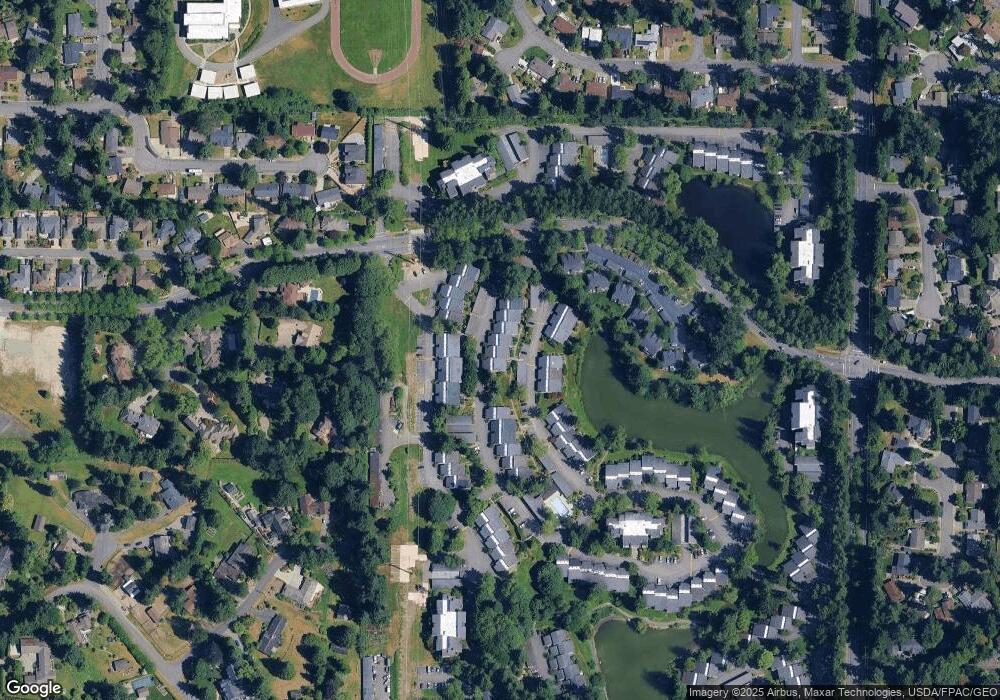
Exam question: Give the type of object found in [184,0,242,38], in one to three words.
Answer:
building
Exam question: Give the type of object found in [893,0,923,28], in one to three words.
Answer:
house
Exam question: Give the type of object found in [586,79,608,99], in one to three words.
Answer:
house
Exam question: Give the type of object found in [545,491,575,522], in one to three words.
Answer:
swimming pool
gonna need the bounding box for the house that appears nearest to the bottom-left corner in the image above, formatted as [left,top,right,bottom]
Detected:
[20,638,50,679]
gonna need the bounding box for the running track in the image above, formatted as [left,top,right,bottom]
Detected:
[330,0,421,83]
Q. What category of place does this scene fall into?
residential area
